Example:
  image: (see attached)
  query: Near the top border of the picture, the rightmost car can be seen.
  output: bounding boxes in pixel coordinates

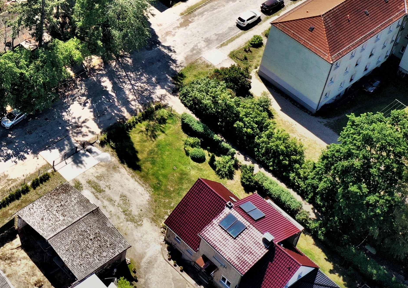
[259,0,288,14]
